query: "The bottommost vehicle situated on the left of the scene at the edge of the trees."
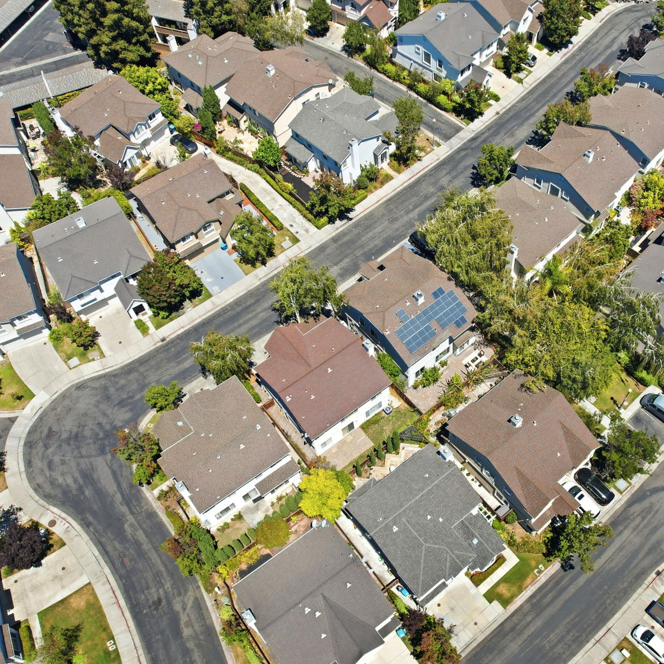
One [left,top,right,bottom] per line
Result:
[168,134,198,153]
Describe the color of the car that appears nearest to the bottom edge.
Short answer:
white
